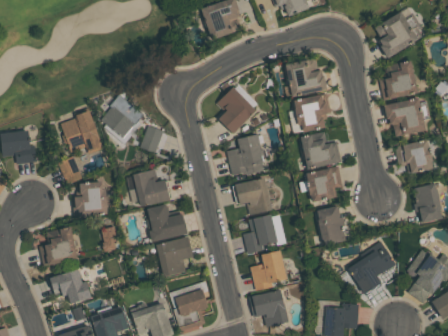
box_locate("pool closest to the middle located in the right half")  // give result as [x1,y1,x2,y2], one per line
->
[266,126,280,146]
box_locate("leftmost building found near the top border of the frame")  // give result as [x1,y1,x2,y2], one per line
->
[203,0,240,38]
